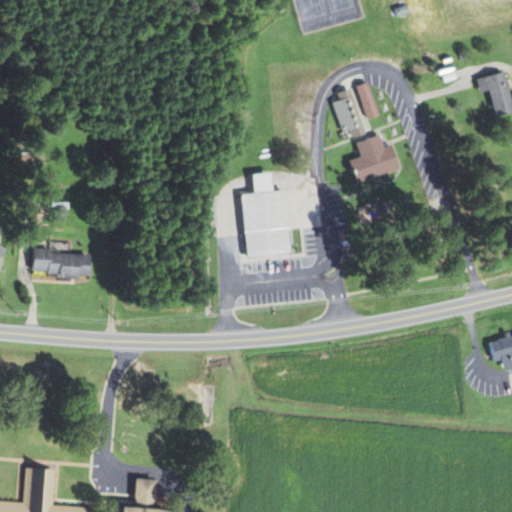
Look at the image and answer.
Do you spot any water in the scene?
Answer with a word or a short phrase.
No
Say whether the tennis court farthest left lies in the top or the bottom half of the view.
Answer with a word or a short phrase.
top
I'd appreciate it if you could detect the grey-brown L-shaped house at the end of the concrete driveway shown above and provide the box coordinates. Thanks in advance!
[476,71,512,114]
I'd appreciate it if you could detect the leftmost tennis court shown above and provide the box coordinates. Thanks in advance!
[295,0,364,34]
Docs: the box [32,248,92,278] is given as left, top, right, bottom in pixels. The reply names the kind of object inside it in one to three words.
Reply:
house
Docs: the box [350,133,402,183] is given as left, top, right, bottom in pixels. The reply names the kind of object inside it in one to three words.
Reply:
building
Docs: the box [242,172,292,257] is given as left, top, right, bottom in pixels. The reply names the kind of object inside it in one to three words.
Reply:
building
